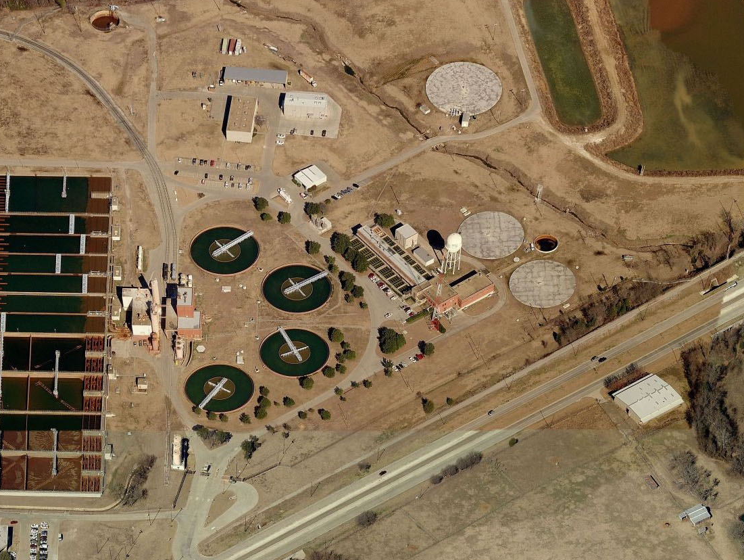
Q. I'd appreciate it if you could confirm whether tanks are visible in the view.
Yes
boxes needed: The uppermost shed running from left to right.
[223,68,288,89]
